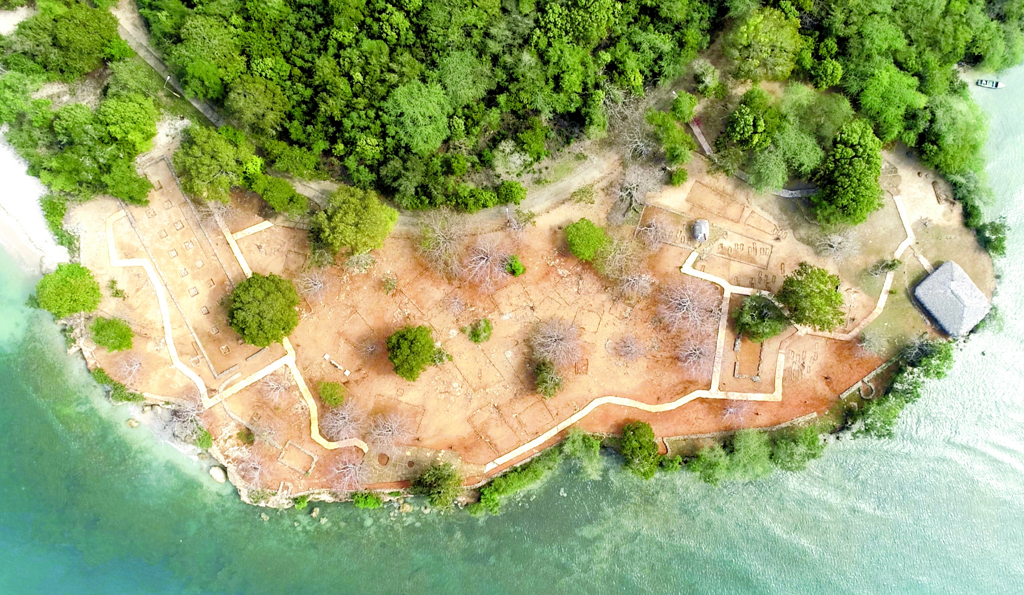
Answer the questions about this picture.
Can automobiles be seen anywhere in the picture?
No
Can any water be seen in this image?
Yes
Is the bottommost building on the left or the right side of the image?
right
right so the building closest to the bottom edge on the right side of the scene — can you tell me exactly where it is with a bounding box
[734,328,766,383]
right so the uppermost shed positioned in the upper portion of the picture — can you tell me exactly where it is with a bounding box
[691,218,711,244]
